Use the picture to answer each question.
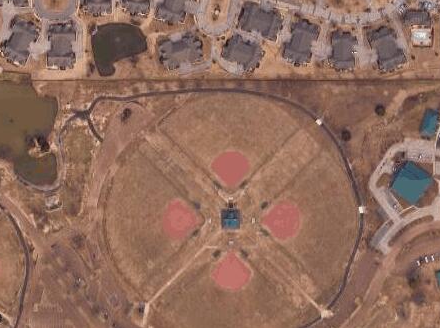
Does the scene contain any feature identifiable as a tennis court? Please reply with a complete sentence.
No, no tennis court can be seen from above.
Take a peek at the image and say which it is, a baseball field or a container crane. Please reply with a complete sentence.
Of the two, only a baseball field appears.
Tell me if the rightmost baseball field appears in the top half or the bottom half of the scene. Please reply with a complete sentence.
It is in the bottom half that the rightmost baseball field appears.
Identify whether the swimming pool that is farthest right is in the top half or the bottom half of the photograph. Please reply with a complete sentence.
The top half of the photo is where the swimming pool that is farthest right is.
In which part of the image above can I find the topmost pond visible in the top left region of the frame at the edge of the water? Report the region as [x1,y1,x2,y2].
[93,23,146,74]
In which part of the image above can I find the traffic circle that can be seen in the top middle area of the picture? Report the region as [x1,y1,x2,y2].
[194,0,236,41]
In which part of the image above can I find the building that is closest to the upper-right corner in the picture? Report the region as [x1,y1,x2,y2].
[405,11,430,24]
